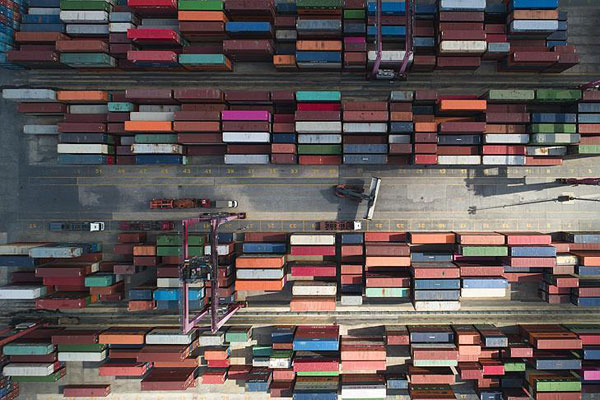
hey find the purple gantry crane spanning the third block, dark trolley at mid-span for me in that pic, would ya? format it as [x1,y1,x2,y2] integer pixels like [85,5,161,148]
[179,211,246,334]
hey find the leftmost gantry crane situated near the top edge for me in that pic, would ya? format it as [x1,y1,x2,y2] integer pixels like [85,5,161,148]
[363,0,416,77]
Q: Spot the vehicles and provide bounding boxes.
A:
[332,175,381,218]
[47,221,103,232]
[148,199,210,209]
[315,221,362,231]
[215,200,237,208]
